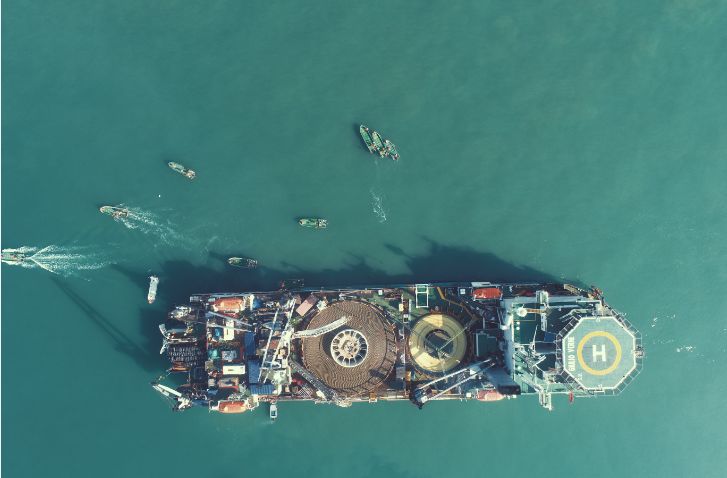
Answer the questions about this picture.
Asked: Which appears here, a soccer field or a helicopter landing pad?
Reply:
helicopter landing pad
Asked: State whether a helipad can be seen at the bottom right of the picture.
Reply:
Yes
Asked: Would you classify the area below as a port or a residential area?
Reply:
port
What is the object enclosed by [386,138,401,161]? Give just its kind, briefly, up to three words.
boat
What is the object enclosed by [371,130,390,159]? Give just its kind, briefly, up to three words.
boat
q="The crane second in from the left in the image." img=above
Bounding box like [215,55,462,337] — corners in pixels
[258,298,300,385]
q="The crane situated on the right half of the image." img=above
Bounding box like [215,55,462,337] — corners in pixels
[410,352,504,406]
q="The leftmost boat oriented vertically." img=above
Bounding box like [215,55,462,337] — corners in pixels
[144,276,158,305]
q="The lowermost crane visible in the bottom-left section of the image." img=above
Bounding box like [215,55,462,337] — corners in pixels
[150,374,196,413]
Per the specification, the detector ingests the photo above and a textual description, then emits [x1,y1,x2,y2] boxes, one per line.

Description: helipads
[555,309,645,397]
